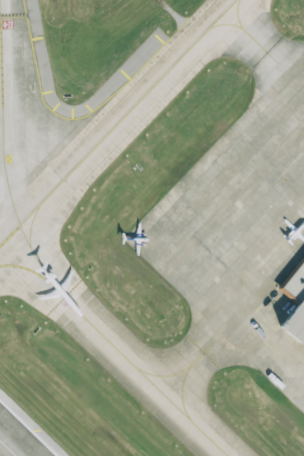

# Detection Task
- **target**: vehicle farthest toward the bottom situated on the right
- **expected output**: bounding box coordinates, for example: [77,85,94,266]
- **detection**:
[268,372,286,390]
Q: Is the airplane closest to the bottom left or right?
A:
left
